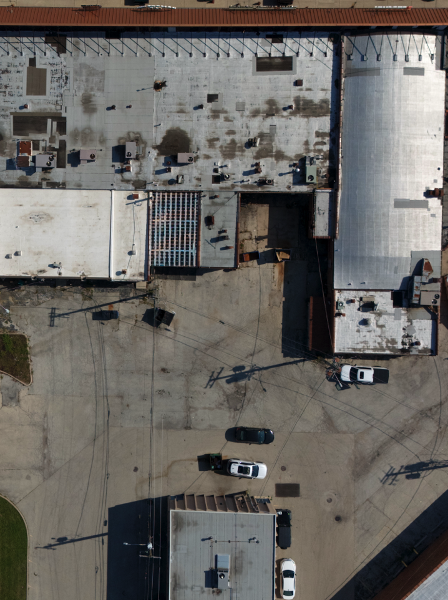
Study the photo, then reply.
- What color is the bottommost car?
white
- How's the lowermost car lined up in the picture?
up and down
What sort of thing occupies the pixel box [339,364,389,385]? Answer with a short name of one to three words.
vehicle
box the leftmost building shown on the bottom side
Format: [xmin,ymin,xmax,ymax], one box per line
[166,490,279,600]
